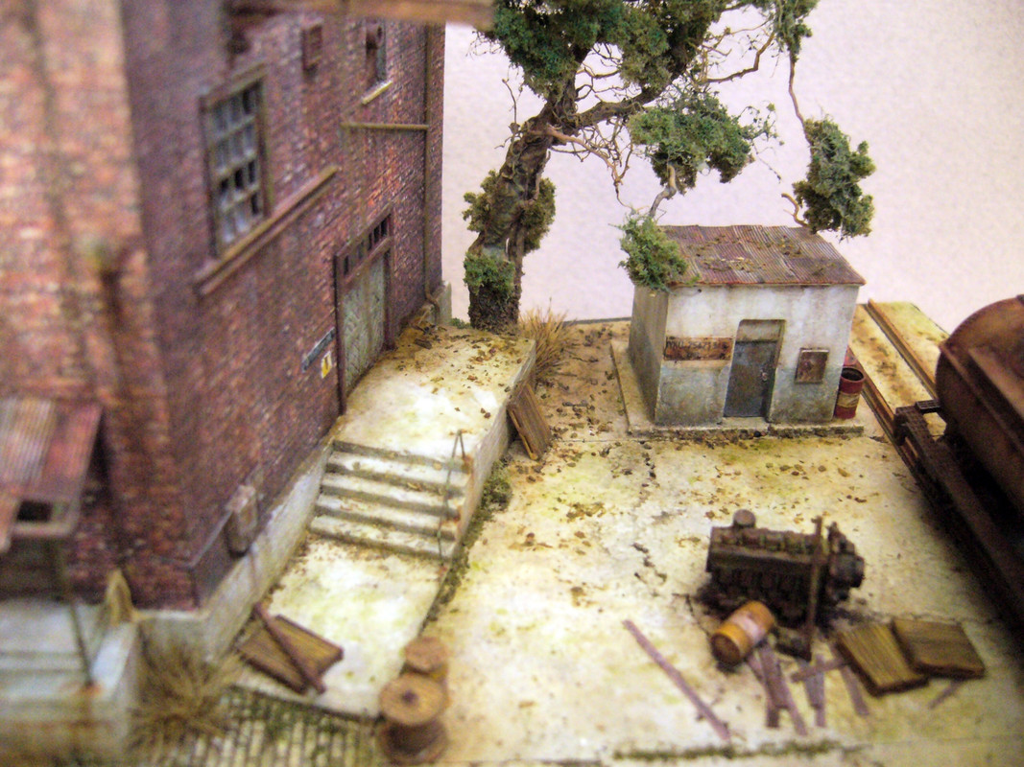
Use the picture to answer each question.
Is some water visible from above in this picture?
No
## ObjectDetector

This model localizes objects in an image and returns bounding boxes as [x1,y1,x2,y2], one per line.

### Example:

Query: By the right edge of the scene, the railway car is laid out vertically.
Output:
[879,293,1024,654]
